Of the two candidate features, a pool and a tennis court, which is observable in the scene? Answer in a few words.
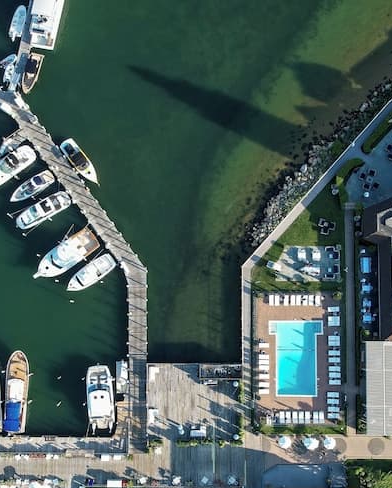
pool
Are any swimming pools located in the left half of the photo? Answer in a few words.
No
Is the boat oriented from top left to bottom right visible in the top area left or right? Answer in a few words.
left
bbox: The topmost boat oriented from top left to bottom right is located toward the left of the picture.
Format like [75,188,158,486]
[60,138,99,184]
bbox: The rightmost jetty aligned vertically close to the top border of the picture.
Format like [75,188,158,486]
[10,0,40,94]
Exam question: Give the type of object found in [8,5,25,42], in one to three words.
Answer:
boat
